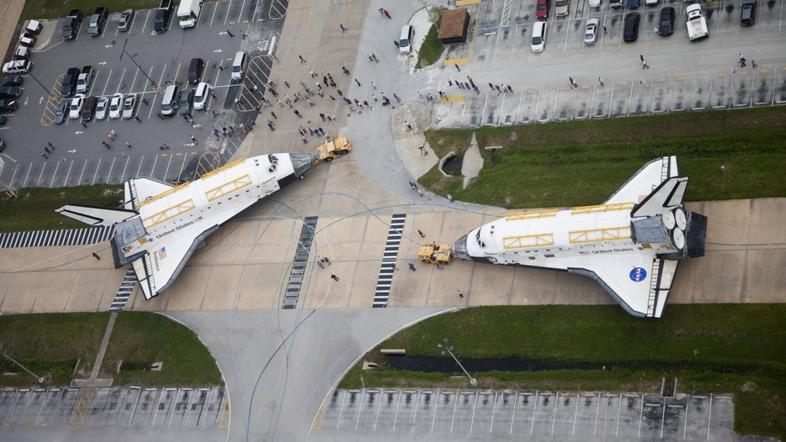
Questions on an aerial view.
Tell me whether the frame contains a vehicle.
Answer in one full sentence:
Yes, the picture does show a vehicle.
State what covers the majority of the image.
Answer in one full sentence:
What you mostly see from above here is paved ground.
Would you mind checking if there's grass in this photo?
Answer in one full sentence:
Yes, some grass is visible.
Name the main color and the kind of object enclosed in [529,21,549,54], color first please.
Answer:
white vehicle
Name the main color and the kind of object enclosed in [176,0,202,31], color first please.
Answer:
white vehicle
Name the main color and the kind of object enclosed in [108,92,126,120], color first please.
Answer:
white car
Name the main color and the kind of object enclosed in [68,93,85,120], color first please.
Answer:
white car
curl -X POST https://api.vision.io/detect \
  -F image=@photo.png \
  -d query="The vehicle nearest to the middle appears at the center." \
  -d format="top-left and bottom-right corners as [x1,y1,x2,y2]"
[416,244,454,266]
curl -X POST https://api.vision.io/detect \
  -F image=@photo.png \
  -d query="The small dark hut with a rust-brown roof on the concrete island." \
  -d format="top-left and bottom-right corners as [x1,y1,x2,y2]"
[438,8,472,47]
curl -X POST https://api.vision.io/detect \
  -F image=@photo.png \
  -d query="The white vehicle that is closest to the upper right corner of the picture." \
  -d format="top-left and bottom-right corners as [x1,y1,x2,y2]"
[689,3,707,42]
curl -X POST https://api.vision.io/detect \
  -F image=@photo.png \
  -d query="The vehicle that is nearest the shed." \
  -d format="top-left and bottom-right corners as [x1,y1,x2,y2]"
[396,24,415,55]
